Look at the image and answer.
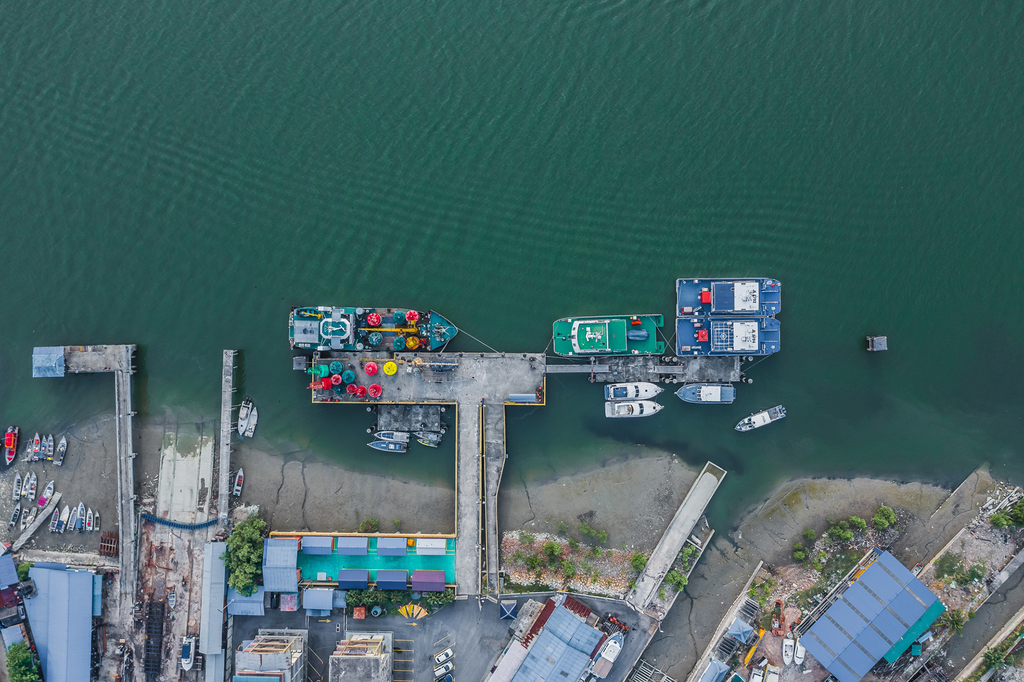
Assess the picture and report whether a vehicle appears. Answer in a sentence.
Yes, a vehicle appears in the view.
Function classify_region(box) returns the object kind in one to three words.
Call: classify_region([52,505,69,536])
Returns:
boat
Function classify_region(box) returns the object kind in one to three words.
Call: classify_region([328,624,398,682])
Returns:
building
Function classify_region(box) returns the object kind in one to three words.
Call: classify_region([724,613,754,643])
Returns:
gazebo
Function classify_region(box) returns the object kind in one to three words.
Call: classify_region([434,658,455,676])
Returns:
car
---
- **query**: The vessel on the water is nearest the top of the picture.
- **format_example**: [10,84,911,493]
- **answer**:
[676,278,781,317]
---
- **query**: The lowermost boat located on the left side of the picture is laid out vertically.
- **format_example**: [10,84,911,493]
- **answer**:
[178,633,196,672]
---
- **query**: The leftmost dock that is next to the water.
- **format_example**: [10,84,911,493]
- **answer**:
[33,344,149,627]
